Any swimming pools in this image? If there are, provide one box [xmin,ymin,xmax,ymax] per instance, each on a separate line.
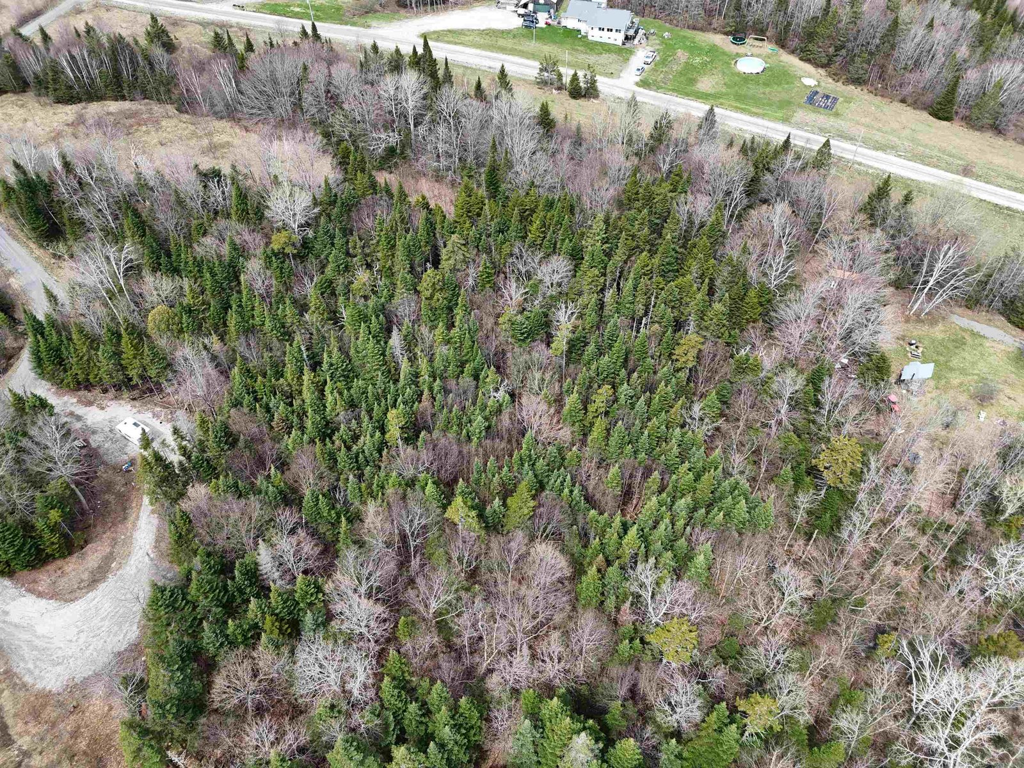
[735,57,770,73]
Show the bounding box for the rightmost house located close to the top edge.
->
[563,0,632,43]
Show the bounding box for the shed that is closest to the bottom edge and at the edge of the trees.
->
[893,361,938,389]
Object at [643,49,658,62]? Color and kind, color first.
white vehicle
